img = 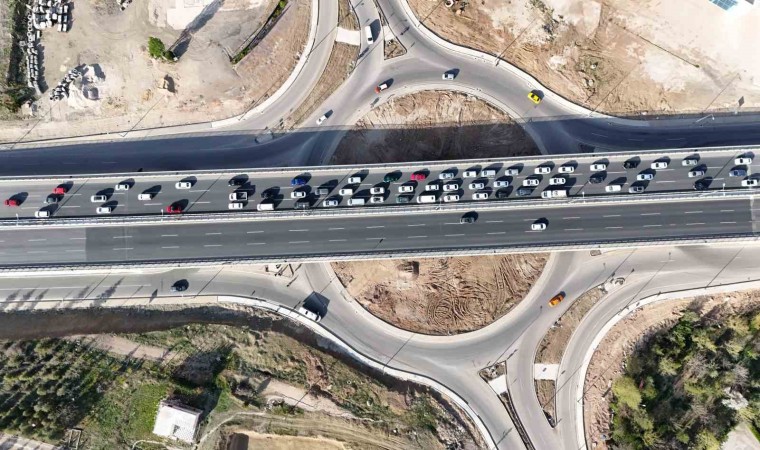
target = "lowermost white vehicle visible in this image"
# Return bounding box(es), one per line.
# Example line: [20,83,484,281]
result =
[297,306,321,323]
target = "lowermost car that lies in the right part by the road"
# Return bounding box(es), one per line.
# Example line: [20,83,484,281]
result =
[548,293,565,306]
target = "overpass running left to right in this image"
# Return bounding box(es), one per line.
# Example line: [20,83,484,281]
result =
[0,144,760,274]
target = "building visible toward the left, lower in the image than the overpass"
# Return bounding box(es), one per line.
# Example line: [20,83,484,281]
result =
[152,394,204,443]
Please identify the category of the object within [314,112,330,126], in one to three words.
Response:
car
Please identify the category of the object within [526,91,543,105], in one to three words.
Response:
car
